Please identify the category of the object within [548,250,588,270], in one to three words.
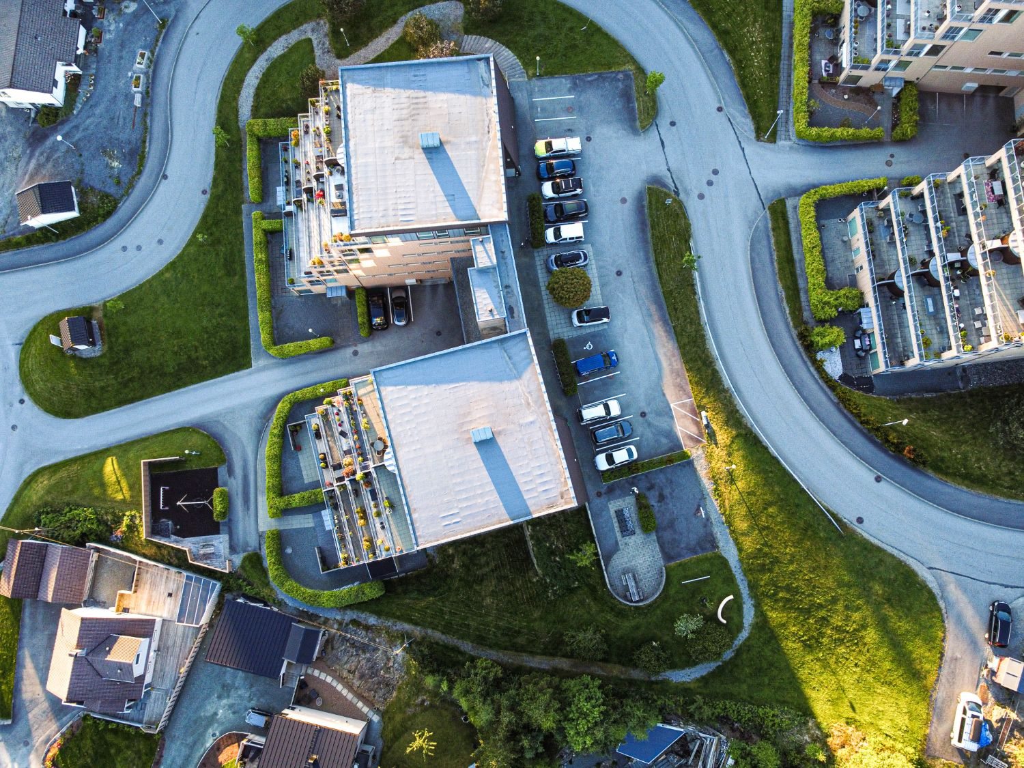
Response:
car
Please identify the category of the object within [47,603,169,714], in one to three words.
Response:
house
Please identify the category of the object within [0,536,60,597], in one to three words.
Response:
building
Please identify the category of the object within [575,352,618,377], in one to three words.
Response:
vehicle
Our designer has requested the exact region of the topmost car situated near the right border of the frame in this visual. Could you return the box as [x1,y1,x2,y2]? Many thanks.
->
[987,599,1015,648]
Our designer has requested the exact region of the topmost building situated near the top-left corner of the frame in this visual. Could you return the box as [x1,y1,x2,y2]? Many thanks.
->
[2,0,94,117]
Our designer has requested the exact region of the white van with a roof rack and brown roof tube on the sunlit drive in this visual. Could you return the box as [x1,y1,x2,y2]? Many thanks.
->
[951,691,985,751]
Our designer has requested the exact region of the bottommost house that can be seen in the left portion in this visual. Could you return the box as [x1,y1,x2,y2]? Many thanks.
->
[233,702,381,768]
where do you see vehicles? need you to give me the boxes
[536,135,581,158]
[951,691,985,751]
[368,291,388,330]
[595,446,638,469]
[546,222,584,243]
[578,399,621,422]
[546,199,587,221]
[987,599,1015,648]
[548,250,588,270]
[538,158,575,178]
[389,287,409,326]
[575,352,618,377]
[543,177,582,198]
[573,306,610,325]
[591,422,633,444]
